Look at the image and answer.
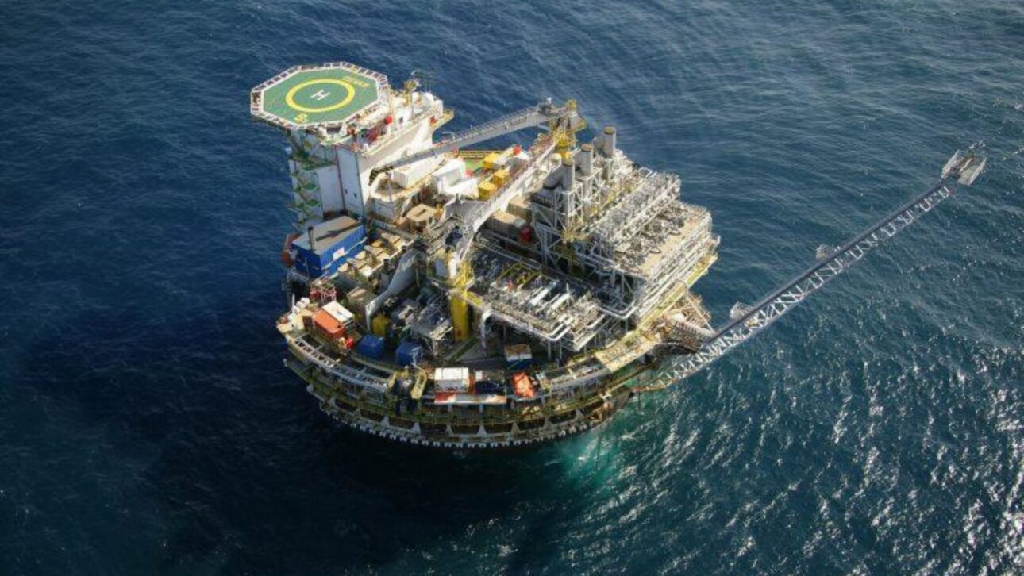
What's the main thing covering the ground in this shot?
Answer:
water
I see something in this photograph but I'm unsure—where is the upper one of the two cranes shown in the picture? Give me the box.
[380,93,587,217]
